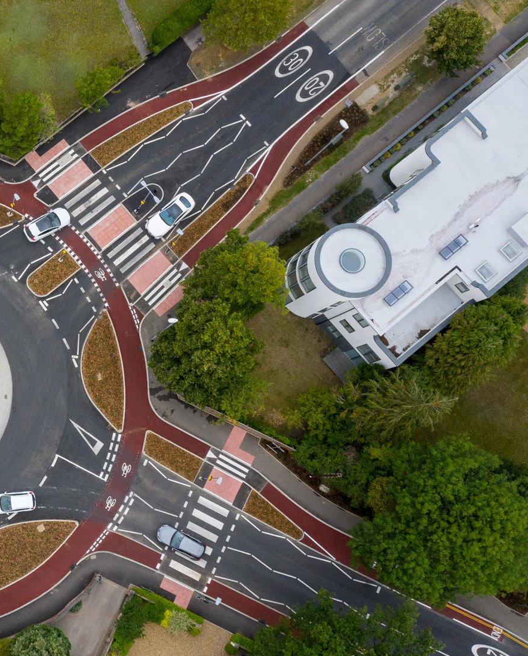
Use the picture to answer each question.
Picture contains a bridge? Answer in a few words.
No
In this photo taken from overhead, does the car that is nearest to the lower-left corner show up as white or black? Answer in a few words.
white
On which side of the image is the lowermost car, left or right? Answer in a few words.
left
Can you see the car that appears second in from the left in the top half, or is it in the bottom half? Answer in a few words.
top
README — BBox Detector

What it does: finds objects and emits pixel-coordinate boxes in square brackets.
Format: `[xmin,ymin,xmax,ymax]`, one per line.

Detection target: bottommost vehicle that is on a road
[154,523,210,564]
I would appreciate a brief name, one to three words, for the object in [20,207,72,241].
car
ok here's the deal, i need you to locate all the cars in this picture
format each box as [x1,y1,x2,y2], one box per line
[0,490,37,515]
[154,523,210,564]
[145,189,199,238]
[20,207,72,241]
